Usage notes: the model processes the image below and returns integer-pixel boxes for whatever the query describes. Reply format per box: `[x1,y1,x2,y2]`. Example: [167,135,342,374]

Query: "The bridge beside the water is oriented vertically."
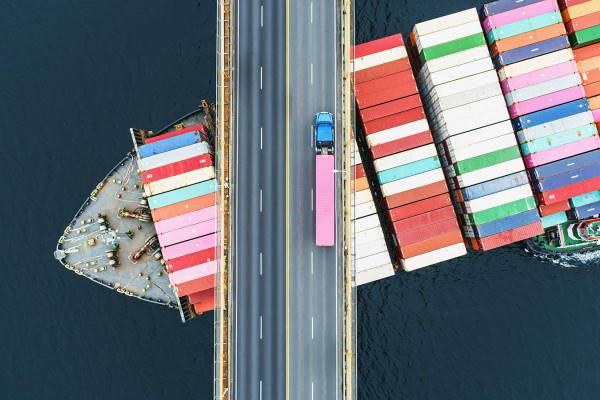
[215,0,356,400]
